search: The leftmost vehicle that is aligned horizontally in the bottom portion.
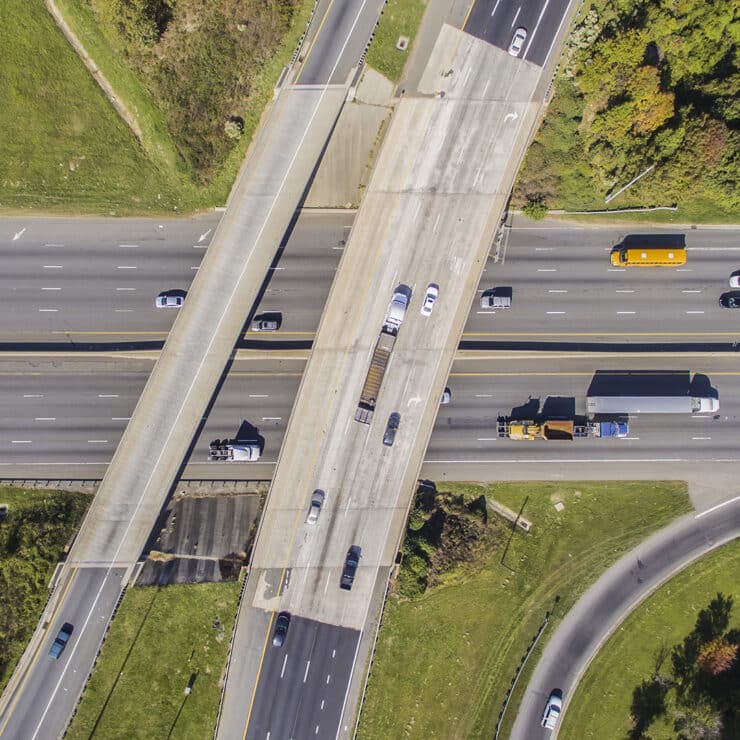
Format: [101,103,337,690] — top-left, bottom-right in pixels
[212,442,262,462]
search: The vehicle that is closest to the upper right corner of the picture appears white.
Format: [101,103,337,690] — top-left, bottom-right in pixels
[507,27,528,59]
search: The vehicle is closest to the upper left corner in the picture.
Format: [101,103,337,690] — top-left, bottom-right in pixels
[155,295,184,309]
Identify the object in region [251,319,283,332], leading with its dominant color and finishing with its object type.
gray vehicle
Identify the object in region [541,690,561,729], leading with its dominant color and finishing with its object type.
white vehicle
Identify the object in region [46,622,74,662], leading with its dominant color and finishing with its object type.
blue truck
